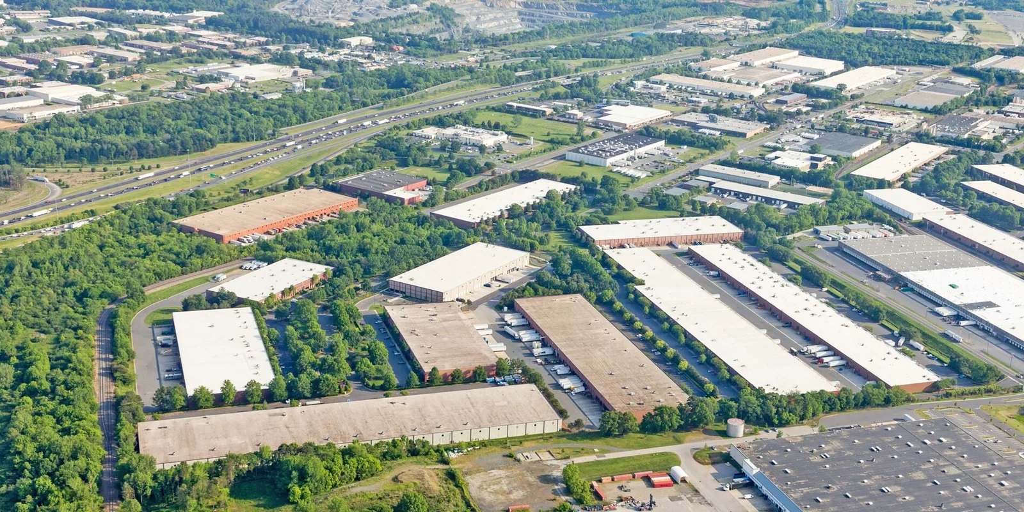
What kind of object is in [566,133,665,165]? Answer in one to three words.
building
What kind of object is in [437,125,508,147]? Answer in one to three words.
building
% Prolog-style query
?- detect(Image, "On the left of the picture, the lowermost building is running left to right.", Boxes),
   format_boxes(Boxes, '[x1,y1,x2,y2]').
[137,384,561,474]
